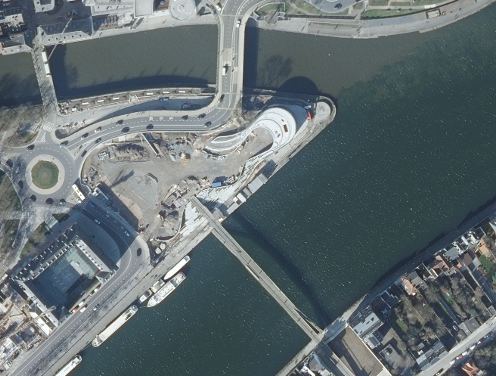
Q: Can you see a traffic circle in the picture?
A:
Yes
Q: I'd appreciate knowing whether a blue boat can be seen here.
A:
No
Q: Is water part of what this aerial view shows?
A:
Yes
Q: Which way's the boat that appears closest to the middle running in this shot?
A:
diagonally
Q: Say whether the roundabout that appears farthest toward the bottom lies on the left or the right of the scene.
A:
left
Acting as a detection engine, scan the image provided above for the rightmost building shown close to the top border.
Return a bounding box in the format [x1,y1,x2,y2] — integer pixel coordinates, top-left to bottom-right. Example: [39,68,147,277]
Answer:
[169,0,196,20]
